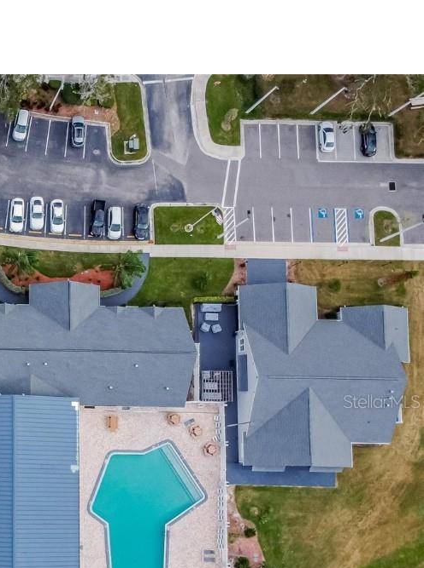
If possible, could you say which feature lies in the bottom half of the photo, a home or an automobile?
home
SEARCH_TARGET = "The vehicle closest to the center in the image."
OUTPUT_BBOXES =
[136,204,153,237]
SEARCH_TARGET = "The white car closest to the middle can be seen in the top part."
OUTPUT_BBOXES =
[108,206,124,237]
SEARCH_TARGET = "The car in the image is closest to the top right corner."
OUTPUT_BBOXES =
[361,122,382,154]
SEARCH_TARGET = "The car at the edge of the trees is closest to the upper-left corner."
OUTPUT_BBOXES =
[14,106,32,141]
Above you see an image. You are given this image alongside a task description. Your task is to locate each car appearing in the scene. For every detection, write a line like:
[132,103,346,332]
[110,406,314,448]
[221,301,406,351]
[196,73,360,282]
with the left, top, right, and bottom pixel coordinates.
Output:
[72,114,88,146]
[31,196,47,229]
[108,206,124,237]
[320,120,340,151]
[136,204,153,237]
[10,197,26,230]
[51,198,67,231]
[361,122,382,154]
[14,106,32,141]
